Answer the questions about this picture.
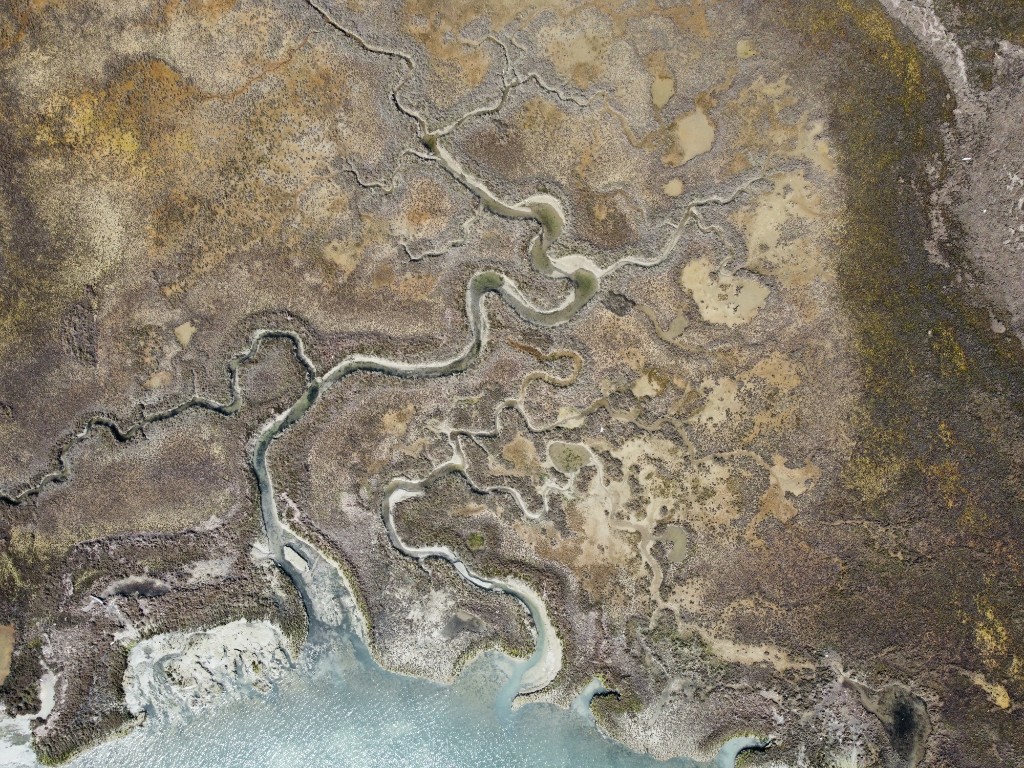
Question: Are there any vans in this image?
No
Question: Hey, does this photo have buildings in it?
No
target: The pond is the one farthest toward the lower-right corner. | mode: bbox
[870,680,929,768]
